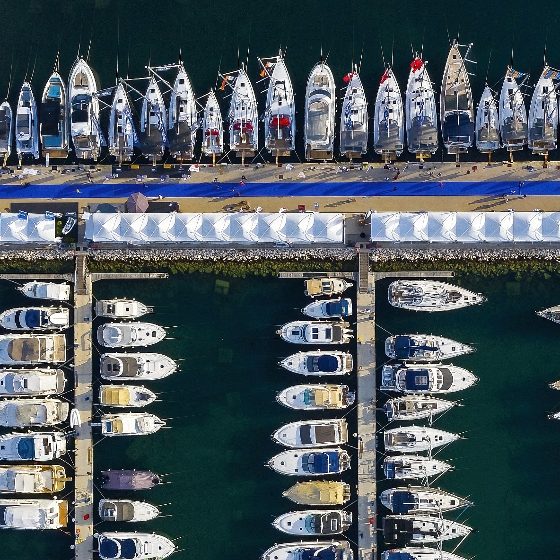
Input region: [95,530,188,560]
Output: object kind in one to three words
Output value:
boat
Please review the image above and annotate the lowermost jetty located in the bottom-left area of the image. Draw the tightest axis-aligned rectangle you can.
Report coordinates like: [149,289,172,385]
[0,272,169,560]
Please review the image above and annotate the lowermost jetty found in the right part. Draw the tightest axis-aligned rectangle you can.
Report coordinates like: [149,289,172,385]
[277,271,454,560]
